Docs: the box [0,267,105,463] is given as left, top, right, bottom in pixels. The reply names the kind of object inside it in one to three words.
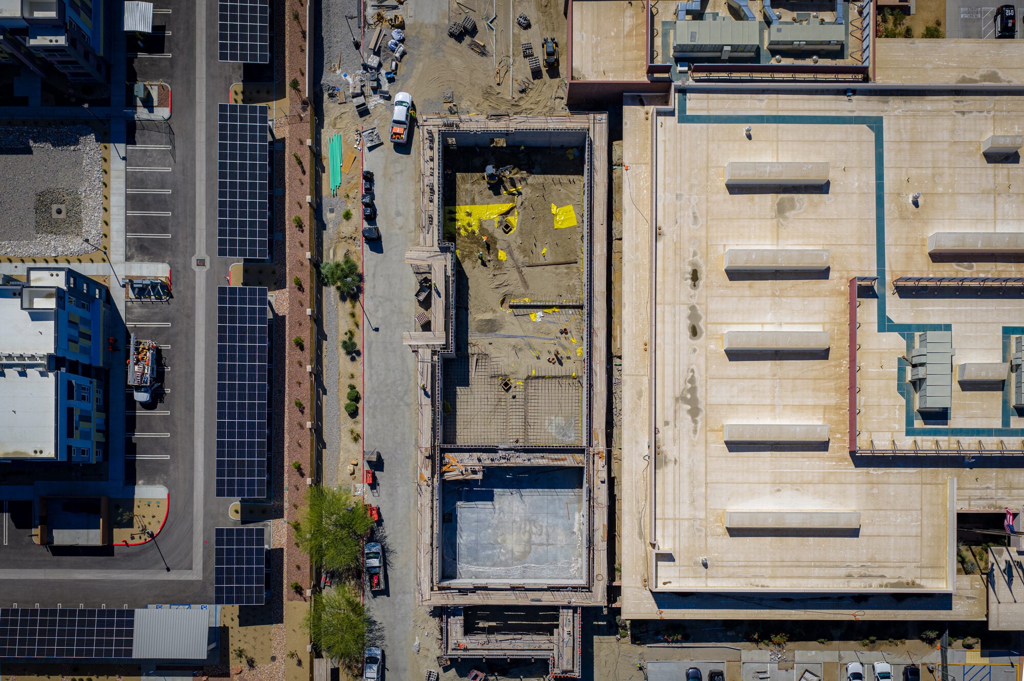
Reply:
building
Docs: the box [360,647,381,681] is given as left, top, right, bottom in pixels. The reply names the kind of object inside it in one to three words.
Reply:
truck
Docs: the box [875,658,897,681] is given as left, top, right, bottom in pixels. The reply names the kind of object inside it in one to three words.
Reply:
car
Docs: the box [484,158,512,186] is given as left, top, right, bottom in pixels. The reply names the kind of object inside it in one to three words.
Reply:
work vehicle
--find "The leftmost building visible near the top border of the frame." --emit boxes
[0,0,106,89]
